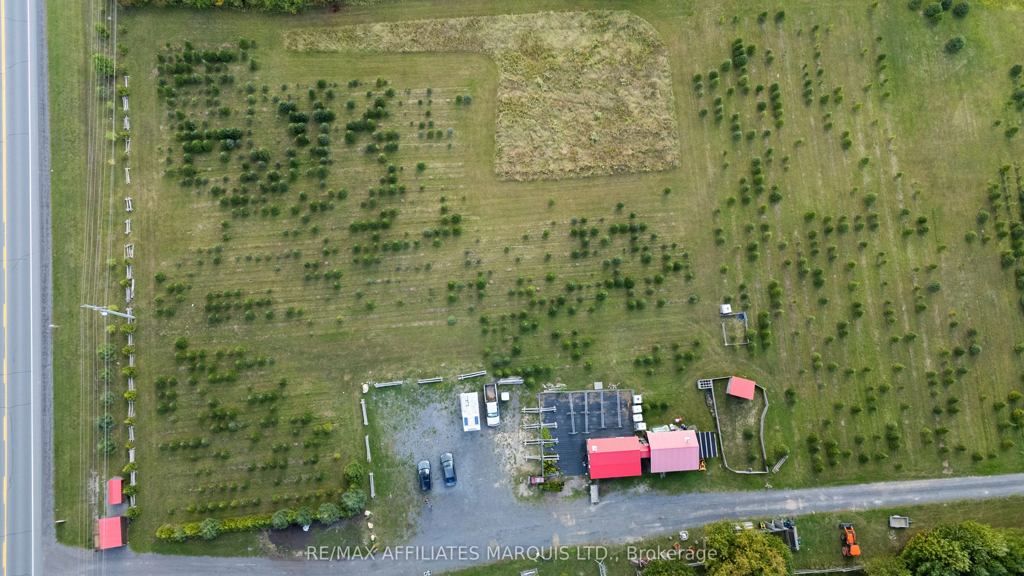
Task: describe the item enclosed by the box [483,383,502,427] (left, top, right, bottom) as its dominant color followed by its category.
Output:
white vehicle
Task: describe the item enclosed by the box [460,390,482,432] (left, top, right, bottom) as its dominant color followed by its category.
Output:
white trailer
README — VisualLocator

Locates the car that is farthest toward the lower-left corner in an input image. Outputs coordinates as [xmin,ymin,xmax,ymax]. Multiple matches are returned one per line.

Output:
[416,460,434,491]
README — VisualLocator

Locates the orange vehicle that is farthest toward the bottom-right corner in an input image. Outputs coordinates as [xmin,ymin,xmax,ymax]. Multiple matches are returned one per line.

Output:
[842,524,863,558]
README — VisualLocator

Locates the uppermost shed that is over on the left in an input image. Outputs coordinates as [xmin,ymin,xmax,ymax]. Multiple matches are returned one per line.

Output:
[109,478,132,505]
